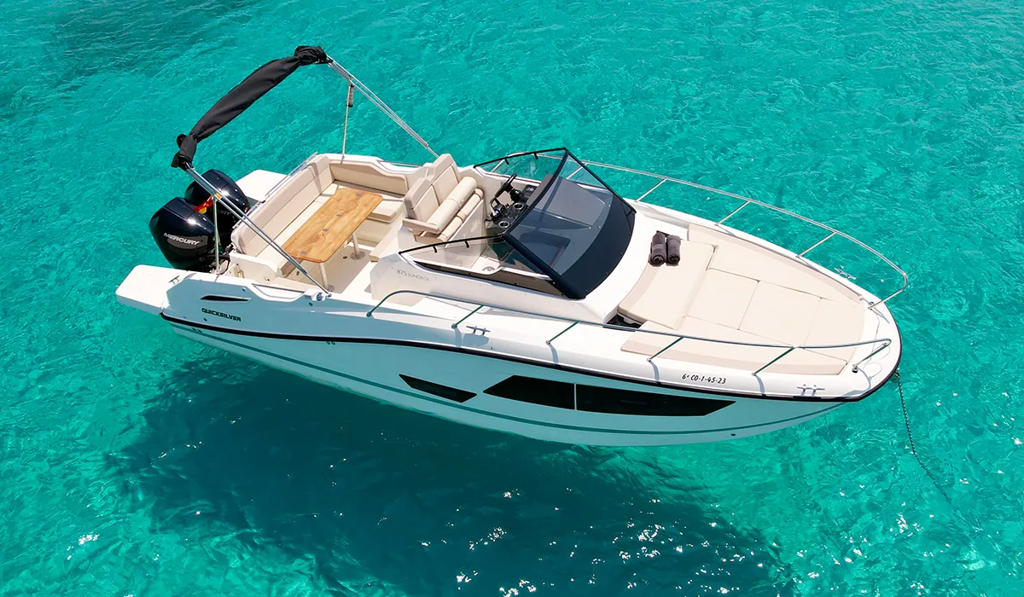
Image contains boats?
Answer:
Yes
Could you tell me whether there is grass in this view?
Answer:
No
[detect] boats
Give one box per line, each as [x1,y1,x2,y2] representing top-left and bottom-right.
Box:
[119,39,909,445]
